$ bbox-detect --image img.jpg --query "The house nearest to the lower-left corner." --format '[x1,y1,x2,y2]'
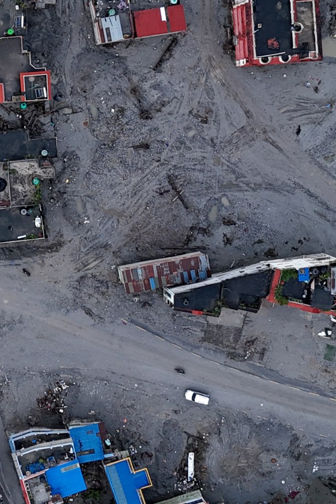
[9,426,87,504]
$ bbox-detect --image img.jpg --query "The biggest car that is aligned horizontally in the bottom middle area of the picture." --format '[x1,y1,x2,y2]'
[185,390,213,407]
